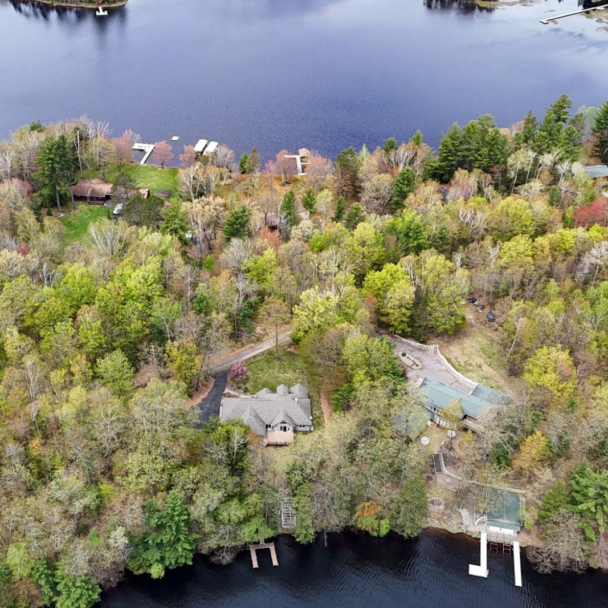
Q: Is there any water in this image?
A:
Yes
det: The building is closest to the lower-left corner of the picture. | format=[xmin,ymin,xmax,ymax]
[220,381,313,445]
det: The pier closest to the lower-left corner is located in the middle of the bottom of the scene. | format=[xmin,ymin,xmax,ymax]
[249,538,278,569]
